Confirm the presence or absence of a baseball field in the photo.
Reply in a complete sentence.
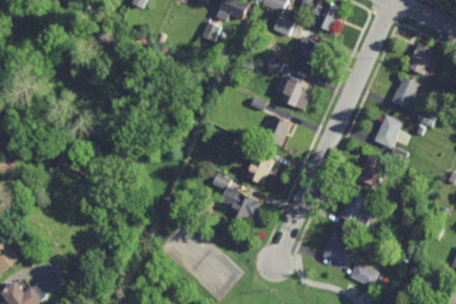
No, no baseball field is visible in the scene.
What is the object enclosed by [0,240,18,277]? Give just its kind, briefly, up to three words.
house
